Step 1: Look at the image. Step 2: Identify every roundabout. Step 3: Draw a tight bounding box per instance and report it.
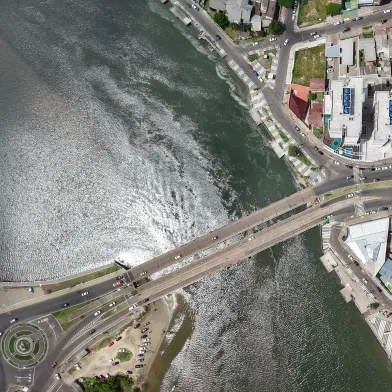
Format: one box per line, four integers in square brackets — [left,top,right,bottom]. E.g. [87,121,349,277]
[0,322,47,369]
